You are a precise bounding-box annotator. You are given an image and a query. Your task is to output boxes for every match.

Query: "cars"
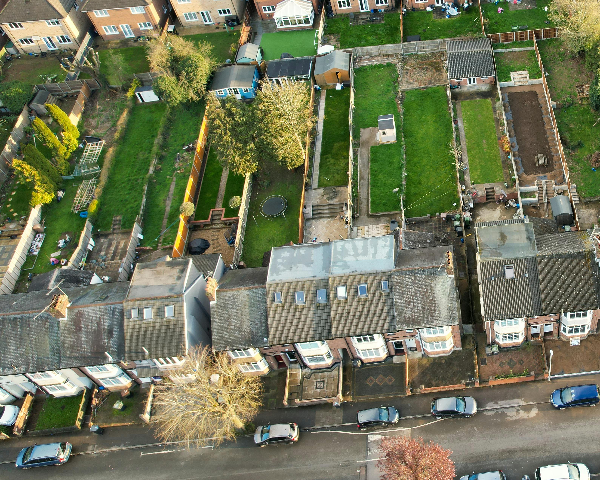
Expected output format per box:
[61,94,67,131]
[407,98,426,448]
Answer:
[458,471,507,480]
[550,384,600,413]
[533,461,591,480]
[13,442,78,473]
[252,423,302,451]
[0,403,19,428]
[356,404,400,434]
[431,393,478,424]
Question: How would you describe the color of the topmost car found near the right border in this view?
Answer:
blue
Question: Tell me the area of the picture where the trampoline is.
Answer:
center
